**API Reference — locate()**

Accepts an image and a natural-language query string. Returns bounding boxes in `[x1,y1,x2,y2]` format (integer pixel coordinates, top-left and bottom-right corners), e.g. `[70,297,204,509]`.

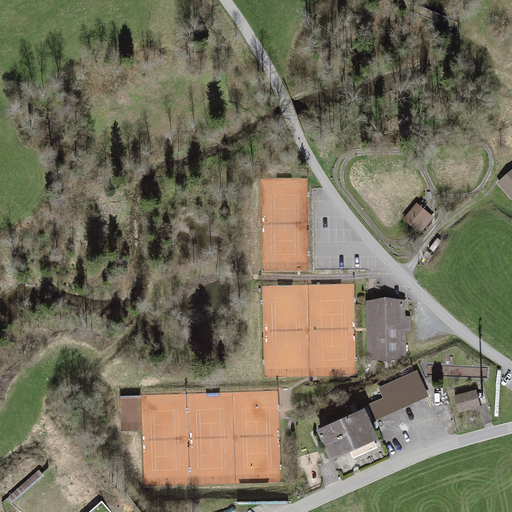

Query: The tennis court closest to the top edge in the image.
[260,178,309,271]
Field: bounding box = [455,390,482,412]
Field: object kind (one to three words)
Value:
house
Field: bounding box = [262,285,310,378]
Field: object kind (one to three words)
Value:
tennis court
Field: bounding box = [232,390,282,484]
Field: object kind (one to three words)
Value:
tennis court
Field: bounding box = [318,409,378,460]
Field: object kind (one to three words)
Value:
building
